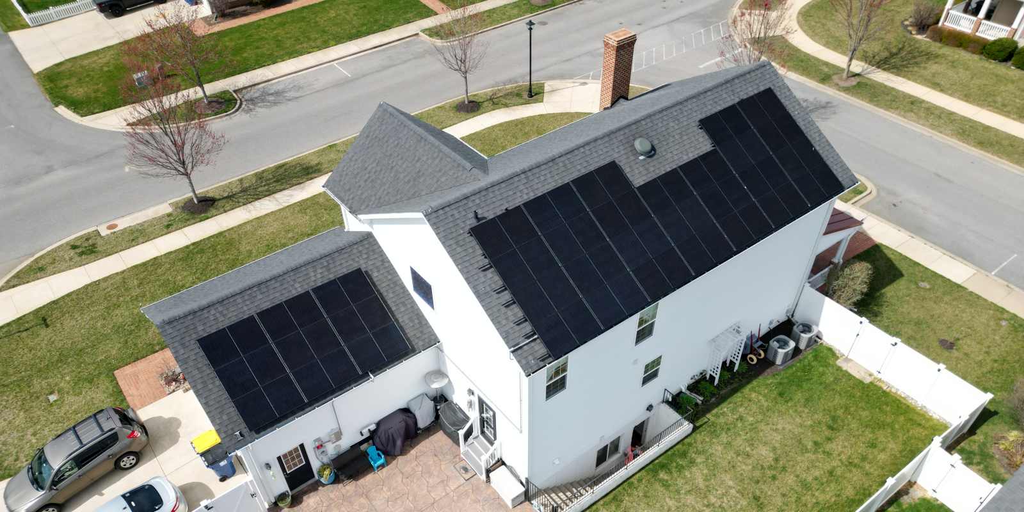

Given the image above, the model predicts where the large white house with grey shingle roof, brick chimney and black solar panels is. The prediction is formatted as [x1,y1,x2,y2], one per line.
[141,34,860,506]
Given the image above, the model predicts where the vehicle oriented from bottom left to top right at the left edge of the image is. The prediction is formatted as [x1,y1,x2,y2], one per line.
[0,402,154,512]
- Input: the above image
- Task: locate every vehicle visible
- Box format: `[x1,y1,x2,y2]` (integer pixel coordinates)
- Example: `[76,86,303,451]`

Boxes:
[93,0,170,14]
[73,474,188,512]
[0,402,154,512]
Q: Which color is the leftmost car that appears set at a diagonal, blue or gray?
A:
gray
